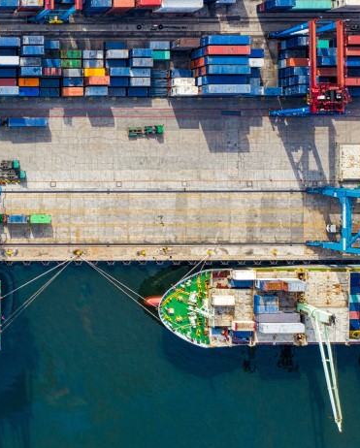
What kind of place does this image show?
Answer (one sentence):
The area seen from above is a port.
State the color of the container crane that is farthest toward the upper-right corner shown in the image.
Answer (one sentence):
The container crane that is farthest toward the upper-right corner looks red in the image.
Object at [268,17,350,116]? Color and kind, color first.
red container crane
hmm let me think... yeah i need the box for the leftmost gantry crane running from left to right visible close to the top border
[26,0,84,25]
